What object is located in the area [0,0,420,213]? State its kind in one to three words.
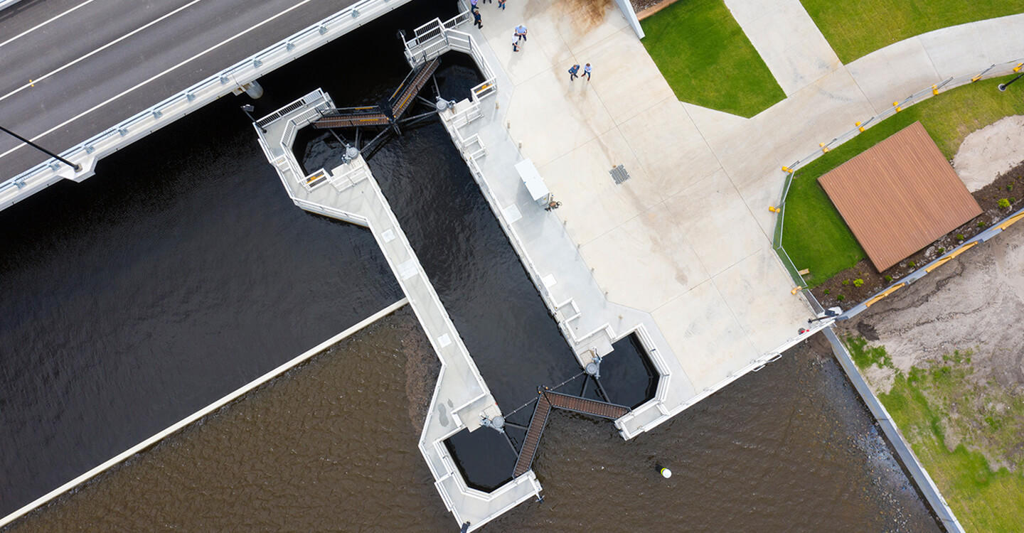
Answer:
bridge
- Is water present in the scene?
Yes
